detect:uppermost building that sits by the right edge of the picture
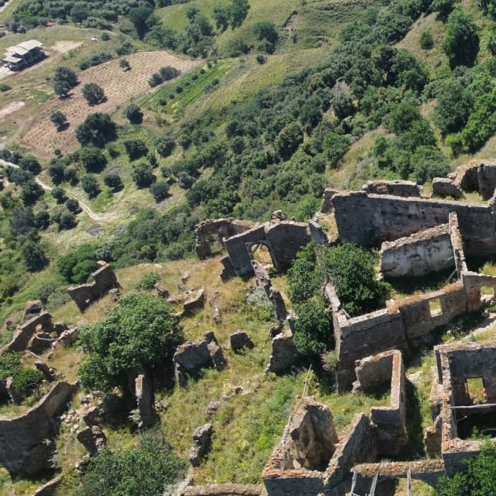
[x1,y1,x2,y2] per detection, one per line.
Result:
[316,191,496,381]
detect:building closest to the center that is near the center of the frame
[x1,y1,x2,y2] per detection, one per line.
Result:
[220,211,309,287]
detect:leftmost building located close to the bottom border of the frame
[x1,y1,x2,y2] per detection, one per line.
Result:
[260,396,372,496]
